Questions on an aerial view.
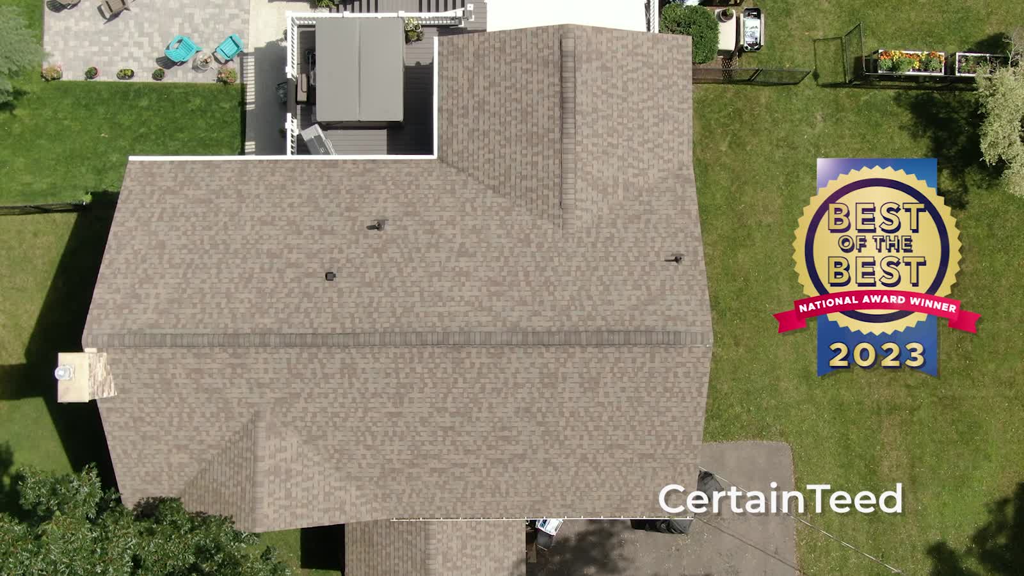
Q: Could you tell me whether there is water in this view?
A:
No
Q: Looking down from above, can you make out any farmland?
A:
No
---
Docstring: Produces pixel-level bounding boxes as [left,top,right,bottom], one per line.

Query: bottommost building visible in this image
[57,25,713,576]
